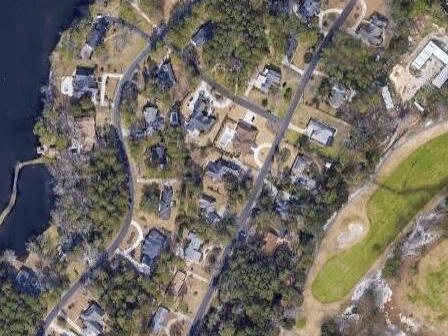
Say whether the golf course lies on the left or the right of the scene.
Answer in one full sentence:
The golf course appears in the right half of the scene.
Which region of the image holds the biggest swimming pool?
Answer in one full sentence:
Look in the center portion of the view to spot the biggest swimming pool.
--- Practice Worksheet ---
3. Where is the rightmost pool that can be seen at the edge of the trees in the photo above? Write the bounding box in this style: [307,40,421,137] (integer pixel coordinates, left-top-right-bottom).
[217,126,237,150]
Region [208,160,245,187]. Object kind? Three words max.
house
